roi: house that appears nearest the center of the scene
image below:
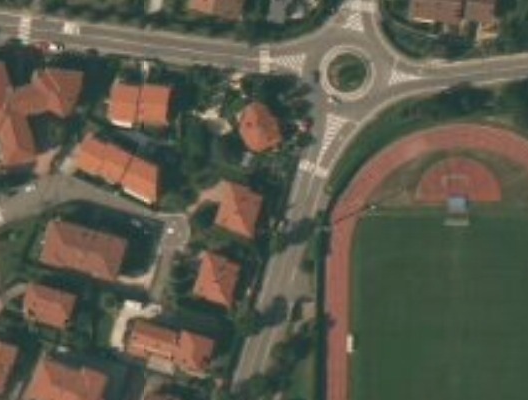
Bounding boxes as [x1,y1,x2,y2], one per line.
[215,180,263,240]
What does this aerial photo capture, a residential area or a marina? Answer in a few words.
residential area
